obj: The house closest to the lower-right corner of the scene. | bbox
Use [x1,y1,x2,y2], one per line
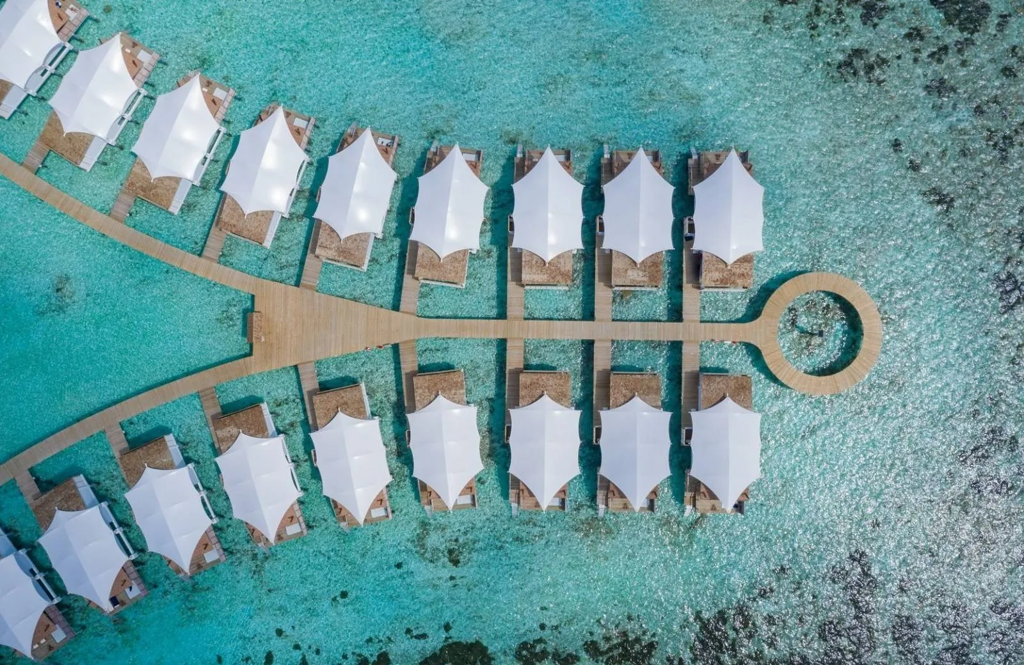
[679,370,763,514]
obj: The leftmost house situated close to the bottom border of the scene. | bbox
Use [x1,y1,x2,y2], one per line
[0,517,87,661]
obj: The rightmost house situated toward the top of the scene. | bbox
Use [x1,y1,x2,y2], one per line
[682,147,766,292]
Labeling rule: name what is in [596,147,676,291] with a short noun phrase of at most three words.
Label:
house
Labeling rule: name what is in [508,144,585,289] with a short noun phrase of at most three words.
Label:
house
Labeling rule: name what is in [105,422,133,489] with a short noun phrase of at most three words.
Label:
pier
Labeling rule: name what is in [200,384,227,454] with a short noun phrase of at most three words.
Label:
pier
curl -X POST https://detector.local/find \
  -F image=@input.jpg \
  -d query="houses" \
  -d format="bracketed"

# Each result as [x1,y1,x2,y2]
[405,367,486,513]
[307,379,395,529]
[38,28,170,175]
[0,517,87,661]
[311,123,402,273]
[217,100,320,251]
[596,147,676,291]
[594,369,673,513]
[407,142,490,289]
[506,368,583,513]
[212,398,313,549]
[508,144,585,289]
[120,430,231,579]
[0,0,100,124]
[126,69,243,218]
[682,147,766,292]
[31,469,158,617]
[679,370,763,514]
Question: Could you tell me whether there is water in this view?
Yes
